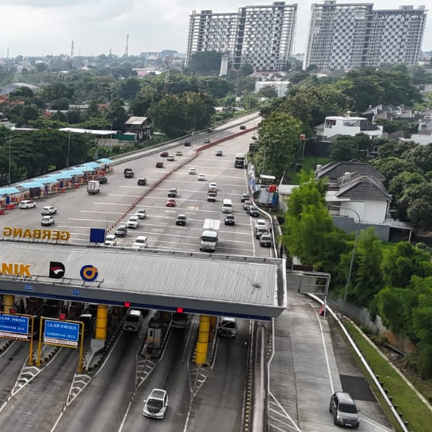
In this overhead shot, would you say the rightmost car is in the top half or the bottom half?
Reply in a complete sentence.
You can find the rightmost car in the bottom half.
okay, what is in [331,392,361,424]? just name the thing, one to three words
car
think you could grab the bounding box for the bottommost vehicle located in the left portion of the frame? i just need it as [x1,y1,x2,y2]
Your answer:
[143,390,168,417]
